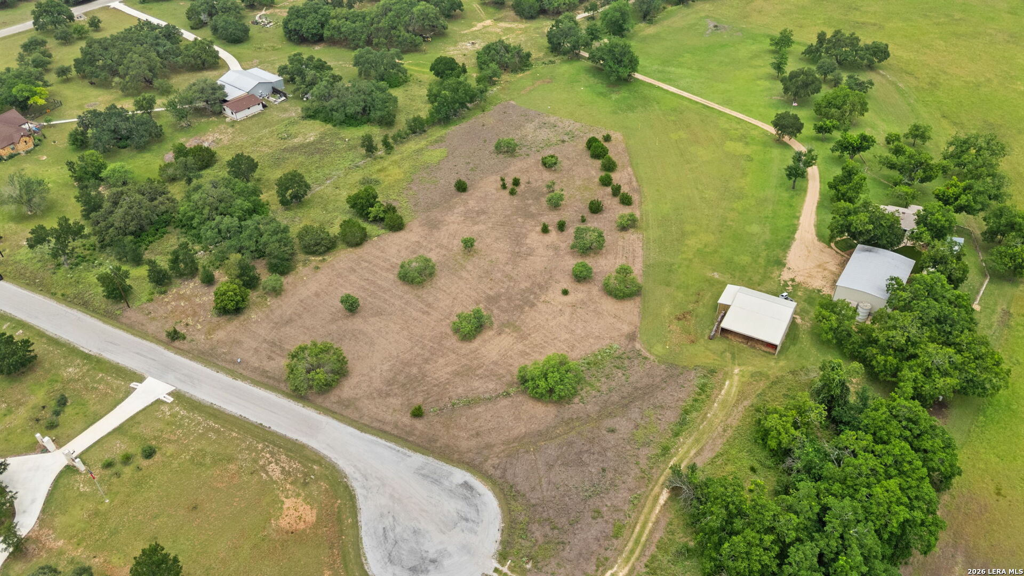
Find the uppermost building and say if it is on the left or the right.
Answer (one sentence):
You can find the uppermost building on the left side of the picture.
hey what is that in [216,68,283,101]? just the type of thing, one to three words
building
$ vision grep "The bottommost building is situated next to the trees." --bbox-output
[717,286,799,355]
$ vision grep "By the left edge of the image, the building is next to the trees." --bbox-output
[0,112,46,155]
